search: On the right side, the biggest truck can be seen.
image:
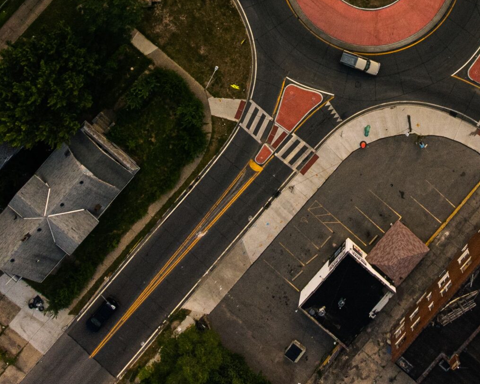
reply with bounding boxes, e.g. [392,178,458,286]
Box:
[338,47,382,76]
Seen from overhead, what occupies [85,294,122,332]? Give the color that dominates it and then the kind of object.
black car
